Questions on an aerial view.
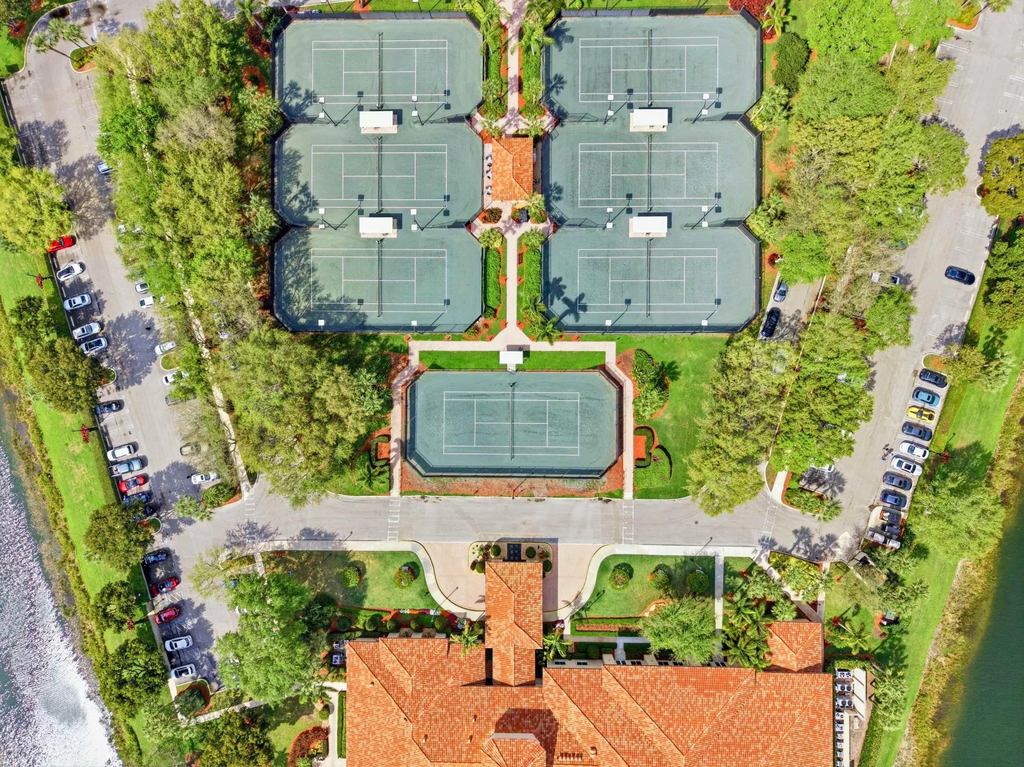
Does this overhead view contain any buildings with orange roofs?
Yes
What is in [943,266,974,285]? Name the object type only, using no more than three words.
car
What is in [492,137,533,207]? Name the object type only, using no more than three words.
building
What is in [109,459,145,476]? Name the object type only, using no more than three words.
vehicle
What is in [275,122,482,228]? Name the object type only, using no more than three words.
tennis court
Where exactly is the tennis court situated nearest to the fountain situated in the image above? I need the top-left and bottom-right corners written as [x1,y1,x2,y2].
[406,371,618,478]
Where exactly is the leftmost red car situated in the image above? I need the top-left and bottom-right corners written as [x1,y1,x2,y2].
[52,235,77,253]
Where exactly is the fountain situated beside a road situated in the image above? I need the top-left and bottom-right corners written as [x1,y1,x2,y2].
[503,544,526,562]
